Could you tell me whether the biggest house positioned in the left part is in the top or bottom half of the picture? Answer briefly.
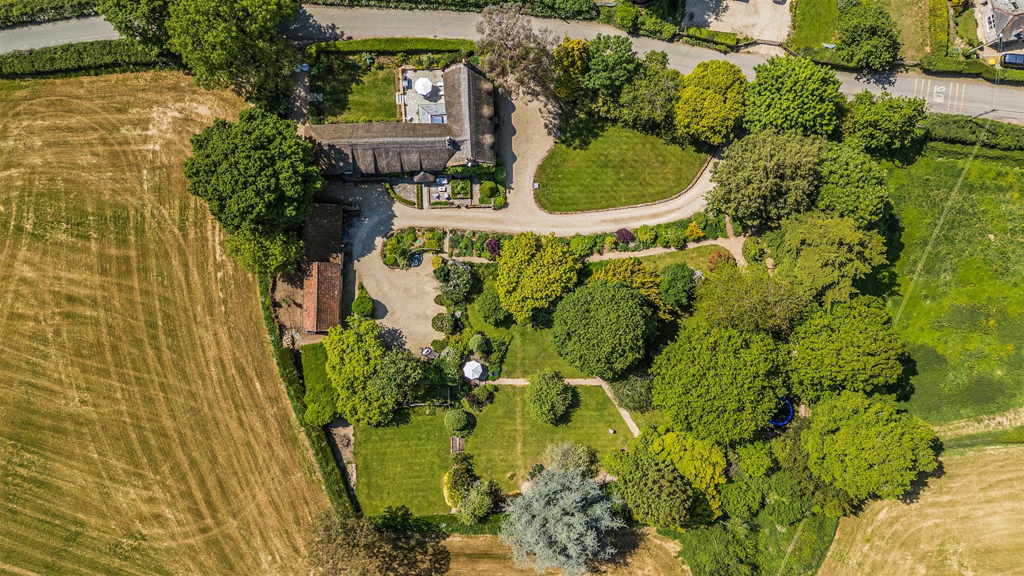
top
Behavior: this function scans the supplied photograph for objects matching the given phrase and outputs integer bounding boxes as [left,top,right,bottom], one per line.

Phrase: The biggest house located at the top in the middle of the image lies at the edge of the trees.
[305,61,504,184]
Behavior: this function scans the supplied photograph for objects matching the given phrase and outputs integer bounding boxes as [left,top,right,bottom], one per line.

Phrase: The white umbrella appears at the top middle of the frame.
[415,78,434,97]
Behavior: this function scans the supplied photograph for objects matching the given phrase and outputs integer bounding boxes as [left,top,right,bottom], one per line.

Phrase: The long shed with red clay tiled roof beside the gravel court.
[303,261,343,333]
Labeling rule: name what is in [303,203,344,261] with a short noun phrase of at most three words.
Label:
barn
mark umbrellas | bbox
[464,359,482,378]
[415,78,434,97]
